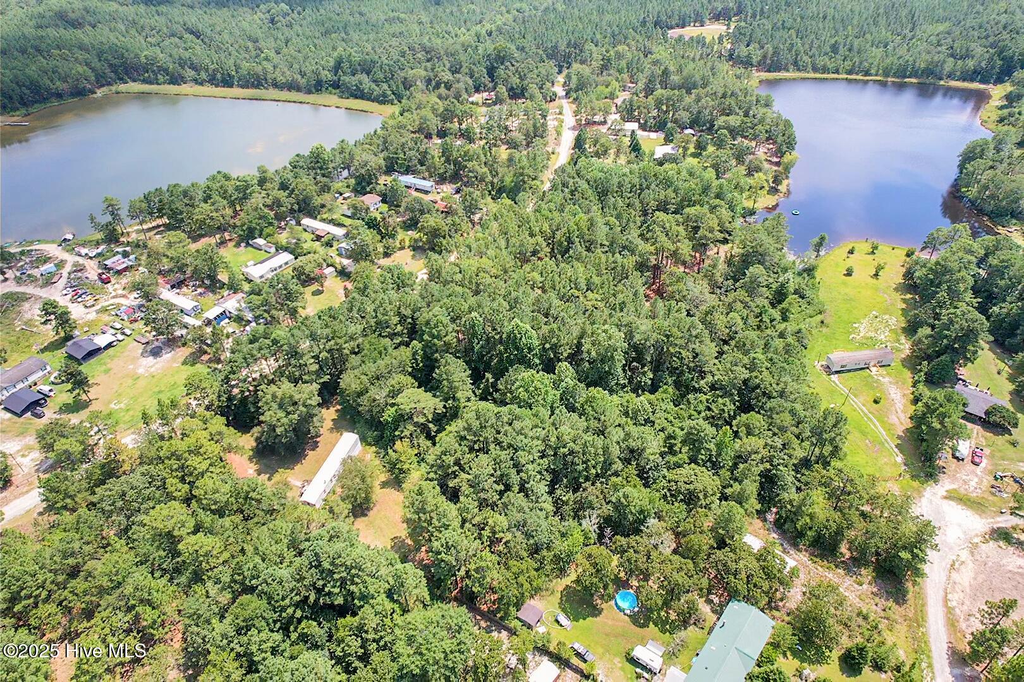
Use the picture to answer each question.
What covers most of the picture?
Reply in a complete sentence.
What you mostly see from above here is trees.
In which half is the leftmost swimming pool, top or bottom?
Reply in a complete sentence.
The leftmost swimming pool sits in the bottom half of the picture.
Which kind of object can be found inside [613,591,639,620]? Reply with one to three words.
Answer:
swimming pool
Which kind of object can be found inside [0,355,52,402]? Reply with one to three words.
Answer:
house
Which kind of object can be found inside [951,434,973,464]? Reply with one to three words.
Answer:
vehicle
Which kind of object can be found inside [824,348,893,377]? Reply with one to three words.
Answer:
house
